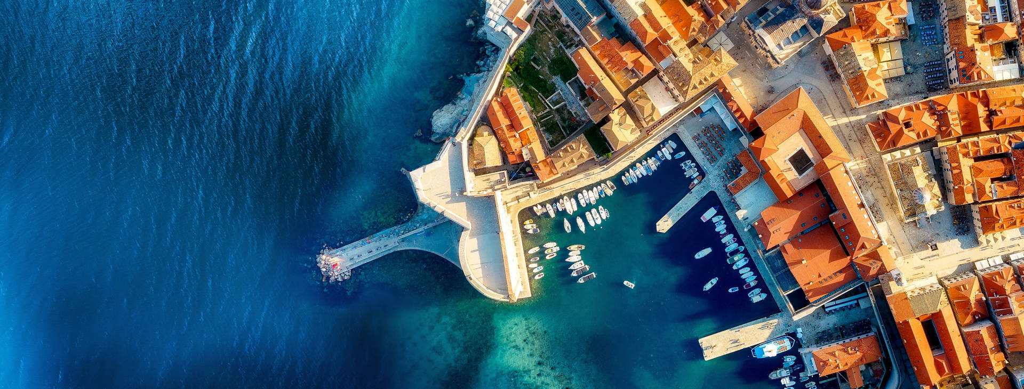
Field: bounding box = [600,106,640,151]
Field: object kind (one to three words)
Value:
house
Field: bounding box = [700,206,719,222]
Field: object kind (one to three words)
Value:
vessel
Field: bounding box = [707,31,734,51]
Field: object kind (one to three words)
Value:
umbrella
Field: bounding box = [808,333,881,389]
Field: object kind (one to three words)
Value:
building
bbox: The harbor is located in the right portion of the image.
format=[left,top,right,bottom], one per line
[506,123,811,377]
